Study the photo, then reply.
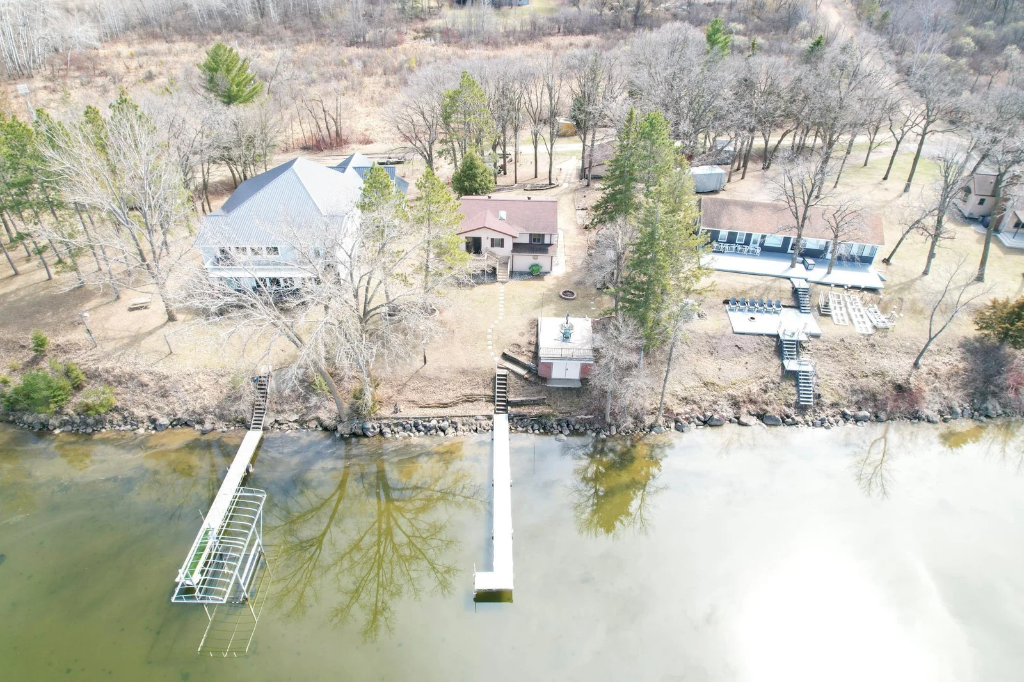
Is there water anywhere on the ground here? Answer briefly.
Yes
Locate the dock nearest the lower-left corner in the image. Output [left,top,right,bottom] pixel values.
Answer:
[172,431,264,590]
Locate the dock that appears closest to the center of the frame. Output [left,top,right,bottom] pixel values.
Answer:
[472,414,515,596]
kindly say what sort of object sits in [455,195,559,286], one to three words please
house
